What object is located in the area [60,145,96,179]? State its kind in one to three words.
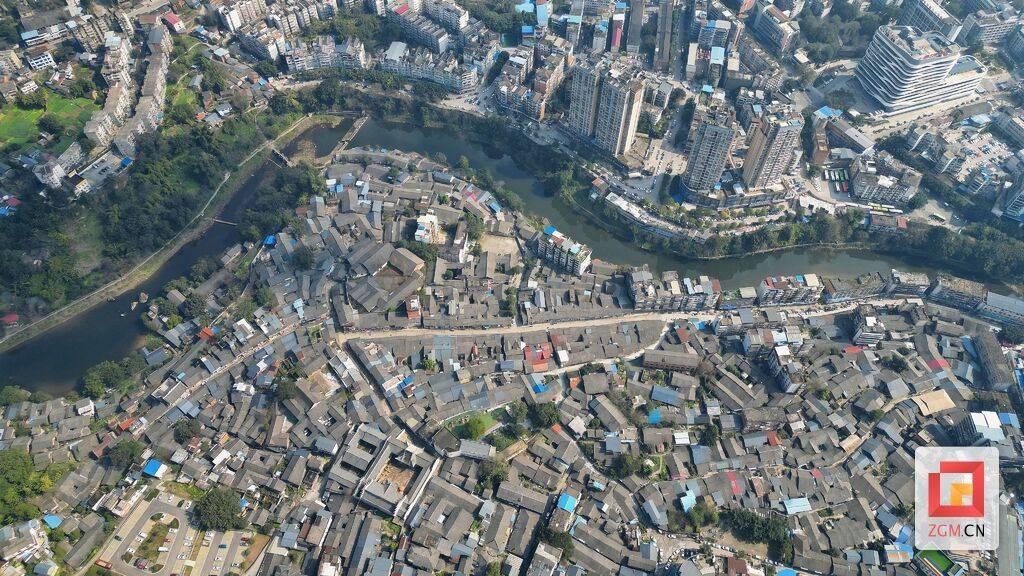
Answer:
building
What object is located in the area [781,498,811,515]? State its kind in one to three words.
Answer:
house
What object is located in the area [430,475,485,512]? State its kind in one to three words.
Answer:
house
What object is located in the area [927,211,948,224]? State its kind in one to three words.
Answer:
vehicle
